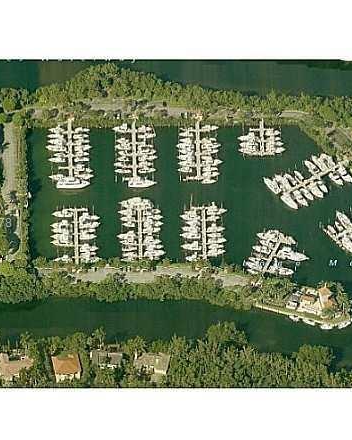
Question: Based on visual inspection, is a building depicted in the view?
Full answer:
Yes, I can see a building in this picture.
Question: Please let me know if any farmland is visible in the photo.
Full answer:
No, there's no farmland in this view.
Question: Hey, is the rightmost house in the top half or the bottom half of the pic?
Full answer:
Seen from above, the rightmost house lies in the bottom half of the view.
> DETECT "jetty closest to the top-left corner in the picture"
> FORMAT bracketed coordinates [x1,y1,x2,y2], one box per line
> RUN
[55,116,86,181]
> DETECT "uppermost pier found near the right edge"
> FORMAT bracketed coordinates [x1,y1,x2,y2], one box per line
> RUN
[268,160,347,208]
